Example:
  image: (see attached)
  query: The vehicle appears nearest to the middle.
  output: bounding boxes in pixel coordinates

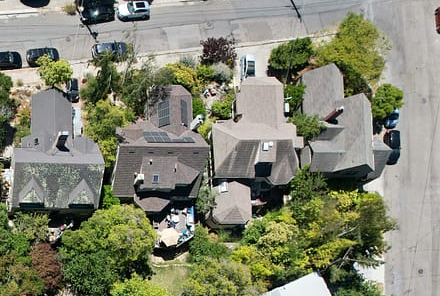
[238,52,257,85]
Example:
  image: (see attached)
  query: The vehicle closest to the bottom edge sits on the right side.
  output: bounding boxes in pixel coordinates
[379,128,401,164]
